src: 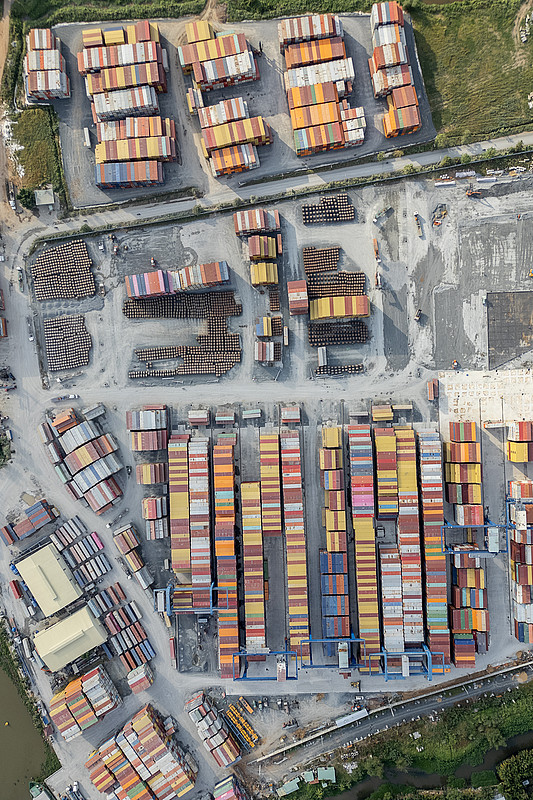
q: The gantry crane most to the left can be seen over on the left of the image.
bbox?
[154,577,228,614]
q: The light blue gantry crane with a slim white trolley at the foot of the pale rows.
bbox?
[370,639,444,680]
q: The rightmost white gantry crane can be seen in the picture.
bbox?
[499,494,533,531]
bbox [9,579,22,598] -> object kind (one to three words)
vehicle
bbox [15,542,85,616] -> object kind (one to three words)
building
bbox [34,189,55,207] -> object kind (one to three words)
shed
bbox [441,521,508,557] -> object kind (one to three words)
container crane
